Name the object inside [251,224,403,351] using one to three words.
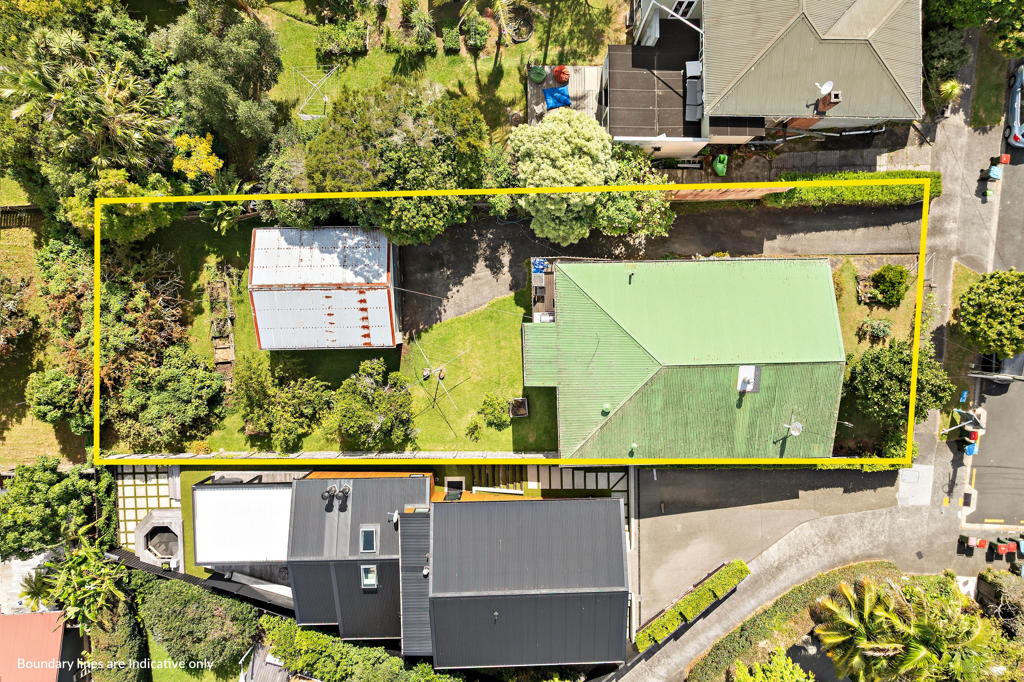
shed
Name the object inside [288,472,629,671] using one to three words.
house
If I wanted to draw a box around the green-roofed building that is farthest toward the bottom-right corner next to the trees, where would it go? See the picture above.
[523,255,849,470]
